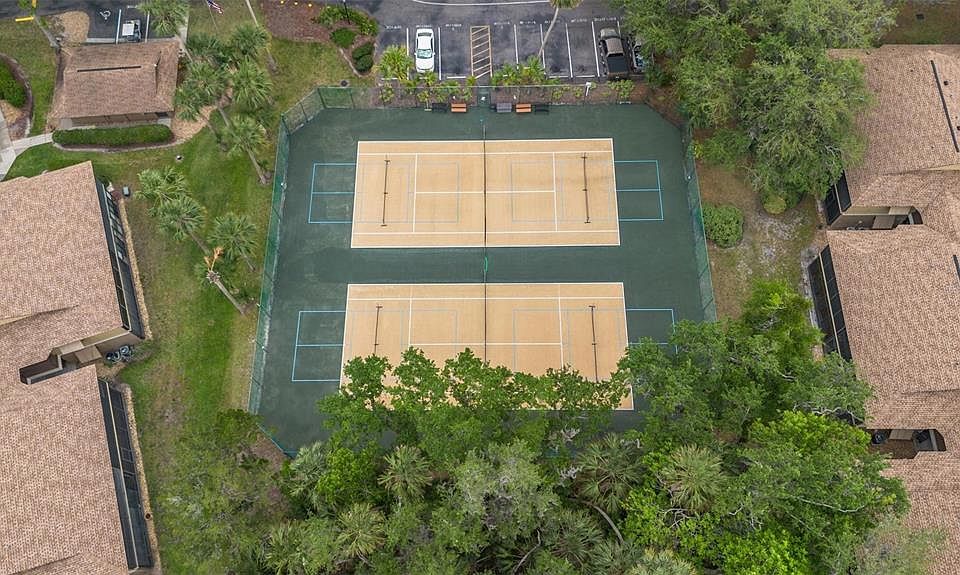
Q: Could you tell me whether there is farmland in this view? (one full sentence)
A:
No, farmland can't be seen anywhere here.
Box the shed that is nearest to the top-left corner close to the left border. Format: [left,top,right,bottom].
[48,38,185,129]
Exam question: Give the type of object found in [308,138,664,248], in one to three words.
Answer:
tennis court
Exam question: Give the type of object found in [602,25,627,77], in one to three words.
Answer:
vehicle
